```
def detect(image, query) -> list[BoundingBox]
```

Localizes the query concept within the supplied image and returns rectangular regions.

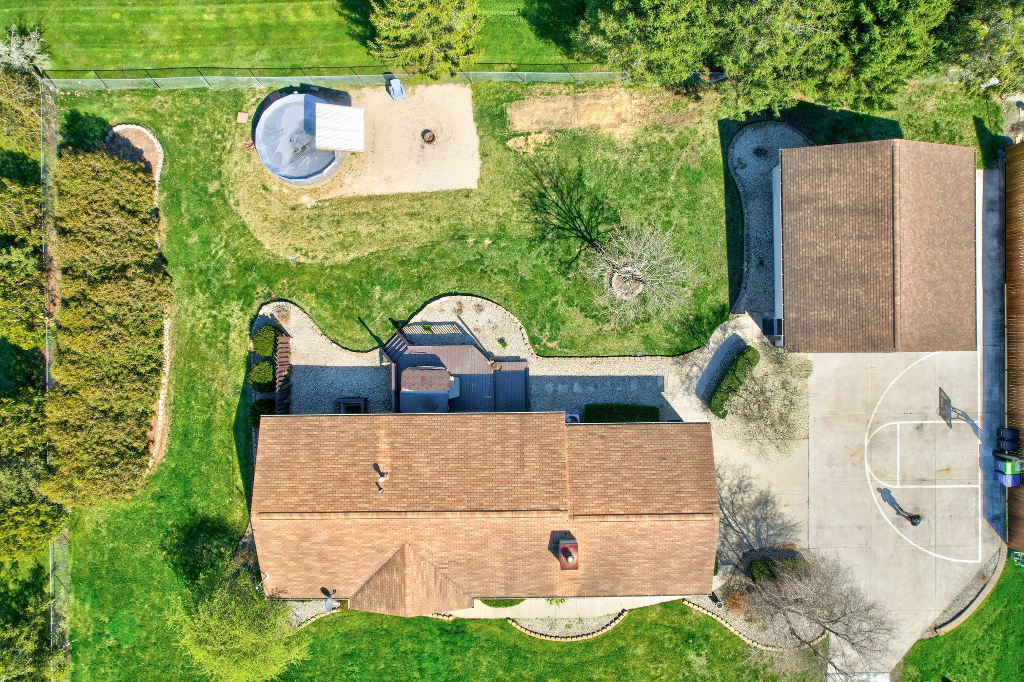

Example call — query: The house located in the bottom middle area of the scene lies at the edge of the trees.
[252,409,720,616]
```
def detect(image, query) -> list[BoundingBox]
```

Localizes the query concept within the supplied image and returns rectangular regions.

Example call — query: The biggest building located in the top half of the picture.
[758,139,978,354]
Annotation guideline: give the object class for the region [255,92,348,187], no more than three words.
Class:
swimming pool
